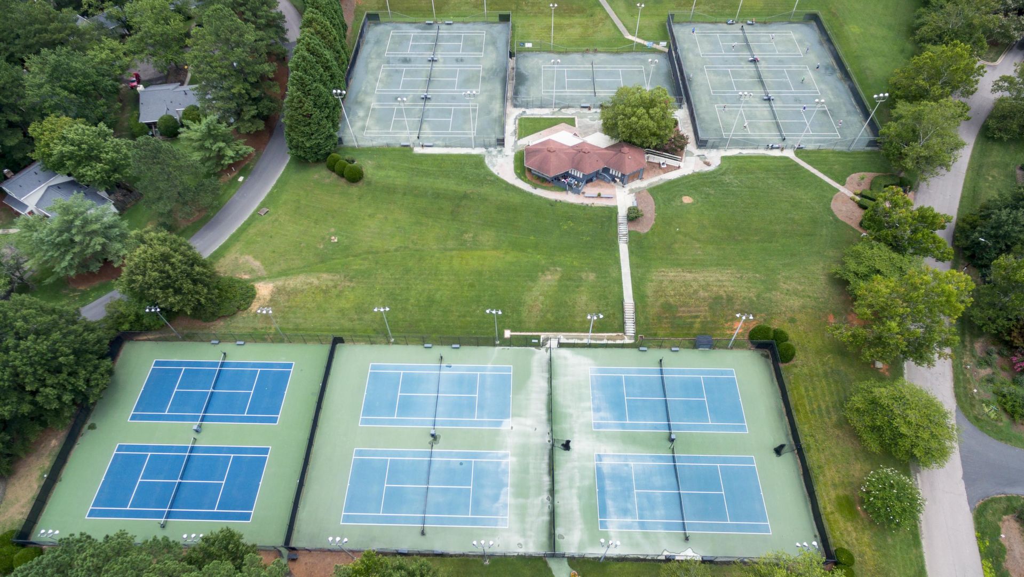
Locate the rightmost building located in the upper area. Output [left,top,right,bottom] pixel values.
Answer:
[525,131,647,194]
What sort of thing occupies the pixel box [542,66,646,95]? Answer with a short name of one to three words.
tennis court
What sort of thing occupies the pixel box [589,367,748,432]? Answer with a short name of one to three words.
tennis court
